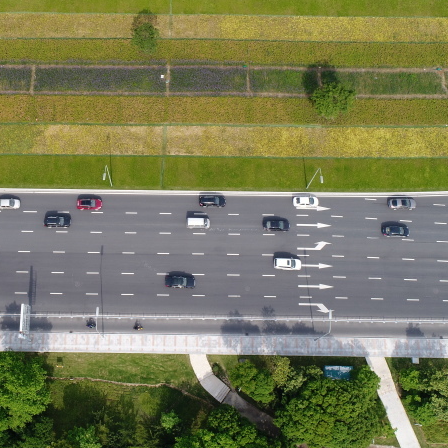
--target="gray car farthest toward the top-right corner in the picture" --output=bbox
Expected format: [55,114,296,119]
[389,197,416,210]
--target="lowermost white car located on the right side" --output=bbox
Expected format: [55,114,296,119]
[274,257,302,271]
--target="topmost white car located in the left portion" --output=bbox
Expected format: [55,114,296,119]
[0,197,19,209]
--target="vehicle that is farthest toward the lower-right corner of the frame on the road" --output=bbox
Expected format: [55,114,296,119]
[381,224,409,237]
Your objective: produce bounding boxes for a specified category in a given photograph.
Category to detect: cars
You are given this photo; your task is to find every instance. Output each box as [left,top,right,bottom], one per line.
[166,275,194,288]
[77,197,101,210]
[198,195,225,207]
[263,218,290,231]
[293,196,320,209]
[381,224,409,237]
[43,214,70,227]
[274,257,302,271]
[389,197,416,210]
[0,197,19,209]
